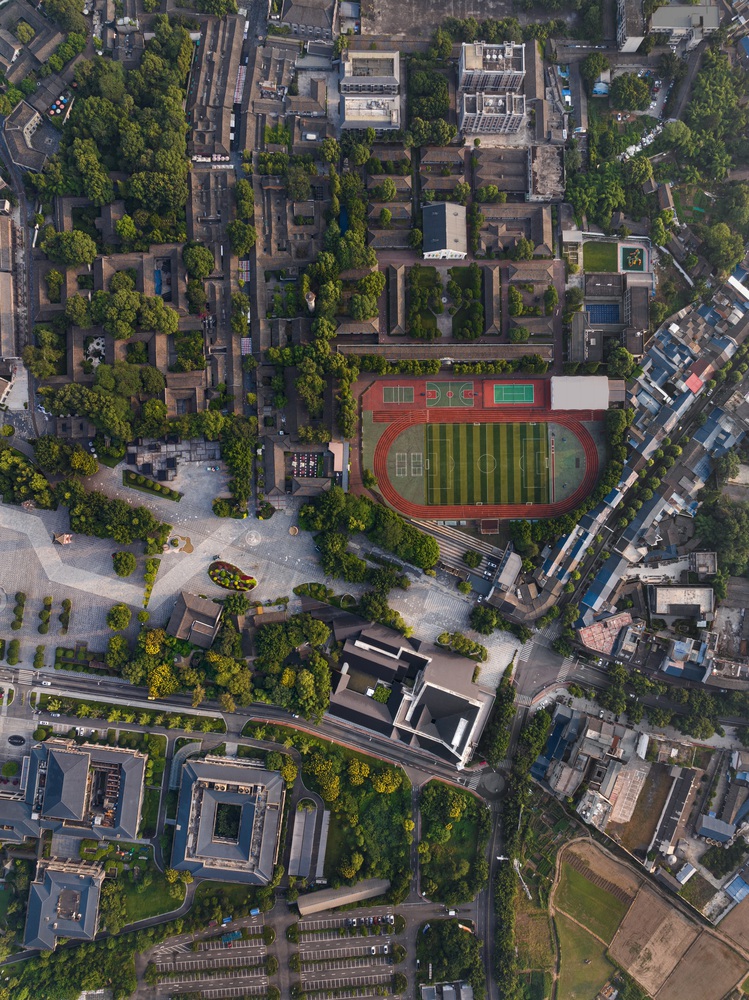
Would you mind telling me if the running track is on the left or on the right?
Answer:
right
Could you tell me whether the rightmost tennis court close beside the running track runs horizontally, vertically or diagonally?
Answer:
horizontally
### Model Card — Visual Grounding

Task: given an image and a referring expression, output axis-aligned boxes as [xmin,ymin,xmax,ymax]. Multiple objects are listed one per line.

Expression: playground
[618,242,648,272]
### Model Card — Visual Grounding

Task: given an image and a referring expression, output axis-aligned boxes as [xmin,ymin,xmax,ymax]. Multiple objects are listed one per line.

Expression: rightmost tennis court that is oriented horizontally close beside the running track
[483,380,546,408]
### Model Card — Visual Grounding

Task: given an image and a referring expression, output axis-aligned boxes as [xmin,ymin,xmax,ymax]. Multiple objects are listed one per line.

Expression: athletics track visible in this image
[373,409,627,520]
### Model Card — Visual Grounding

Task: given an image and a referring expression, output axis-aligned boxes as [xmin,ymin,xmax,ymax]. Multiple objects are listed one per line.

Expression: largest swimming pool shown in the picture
[584,301,621,326]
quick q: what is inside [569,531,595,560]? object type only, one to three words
house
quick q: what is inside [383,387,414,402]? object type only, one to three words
sports court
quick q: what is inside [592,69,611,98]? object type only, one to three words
shed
